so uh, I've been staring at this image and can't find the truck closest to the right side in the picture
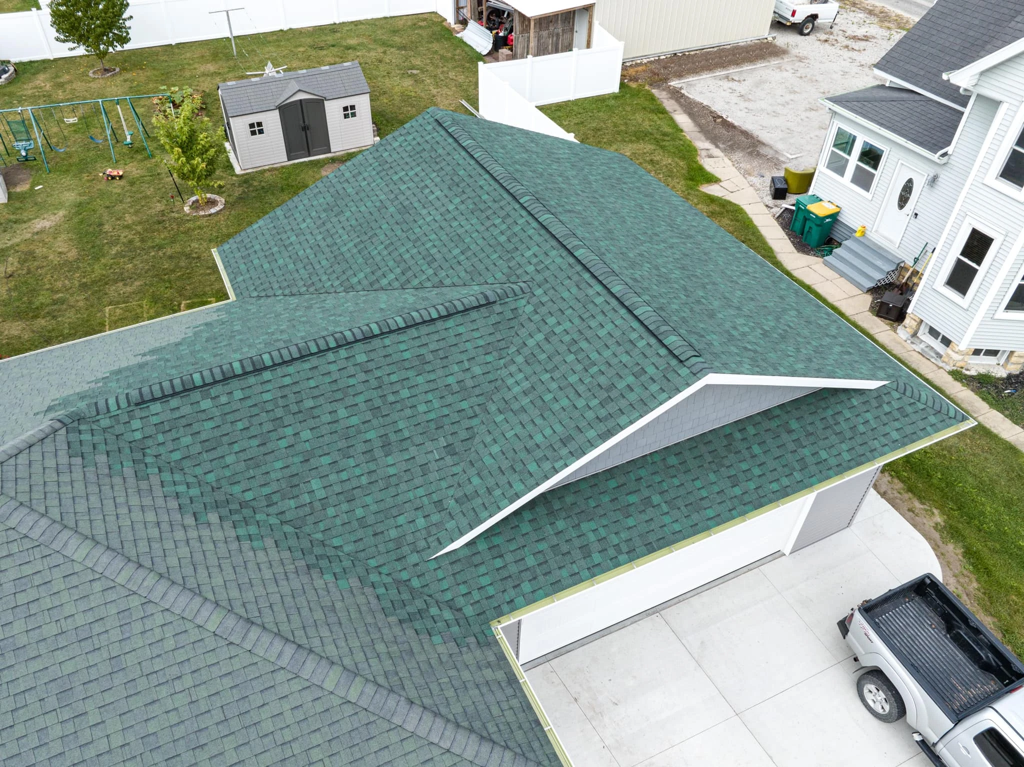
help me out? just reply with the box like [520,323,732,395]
[834,570,1024,767]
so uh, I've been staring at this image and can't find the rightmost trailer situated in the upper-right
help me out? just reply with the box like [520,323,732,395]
[777,0,844,35]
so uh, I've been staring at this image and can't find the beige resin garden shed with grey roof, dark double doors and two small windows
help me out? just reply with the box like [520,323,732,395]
[212,59,374,169]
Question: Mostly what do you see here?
buildings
